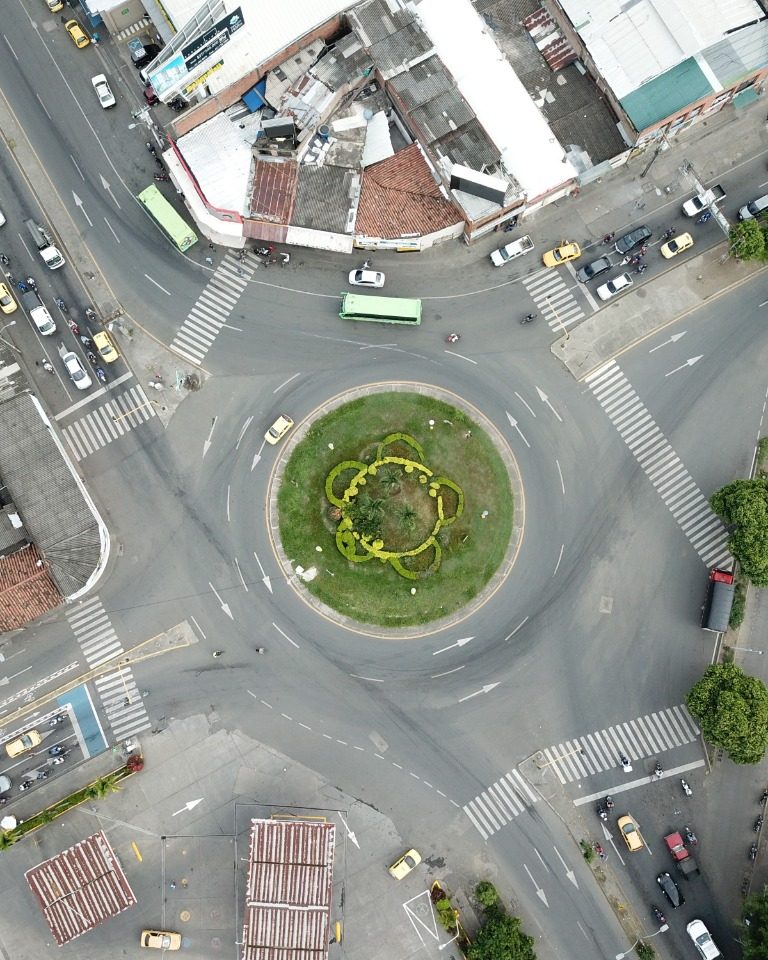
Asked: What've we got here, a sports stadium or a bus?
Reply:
bus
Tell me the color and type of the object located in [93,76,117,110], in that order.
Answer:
white car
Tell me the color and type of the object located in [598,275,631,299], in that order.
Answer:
white car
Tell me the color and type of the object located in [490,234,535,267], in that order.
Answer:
white truck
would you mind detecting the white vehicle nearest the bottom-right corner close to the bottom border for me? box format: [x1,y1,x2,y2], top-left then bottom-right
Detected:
[690,921,723,960]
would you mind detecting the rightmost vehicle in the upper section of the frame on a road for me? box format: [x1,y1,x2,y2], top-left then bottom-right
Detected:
[738,195,768,221]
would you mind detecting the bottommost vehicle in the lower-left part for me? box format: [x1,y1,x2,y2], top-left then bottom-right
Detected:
[142,928,182,951]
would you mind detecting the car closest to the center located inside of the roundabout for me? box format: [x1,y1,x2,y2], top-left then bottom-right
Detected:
[265,413,293,444]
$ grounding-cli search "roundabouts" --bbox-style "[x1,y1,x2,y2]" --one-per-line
[183,305,609,728]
